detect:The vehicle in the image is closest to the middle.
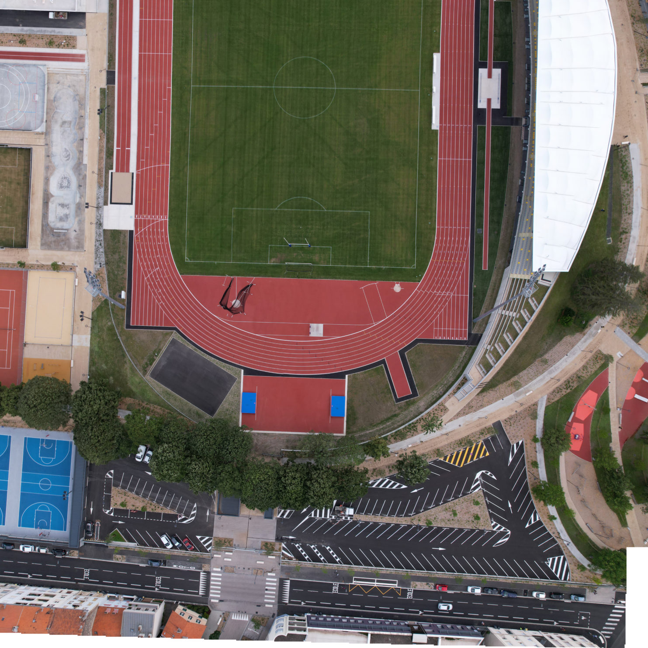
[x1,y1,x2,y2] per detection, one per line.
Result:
[334,505,355,517]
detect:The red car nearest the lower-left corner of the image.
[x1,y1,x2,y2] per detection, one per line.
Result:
[182,537,195,551]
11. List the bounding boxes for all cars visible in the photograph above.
[569,593,586,602]
[86,521,94,537]
[160,533,173,550]
[35,545,49,554]
[468,585,482,593]
[136,446,144,462]
[170,534,182,549]
[437,602,453,612]
[143,450,153,464]
[435,584,449,592]
[148,558,163,568]
[182,537,195,551]
[550,591,565,601]
[51,547,67,557]
[1,542,15,550]
[483,587,498,597]
[532,590,546,599]
[20,544,35,553]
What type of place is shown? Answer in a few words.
sports ground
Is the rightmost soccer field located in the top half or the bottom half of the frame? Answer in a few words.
top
